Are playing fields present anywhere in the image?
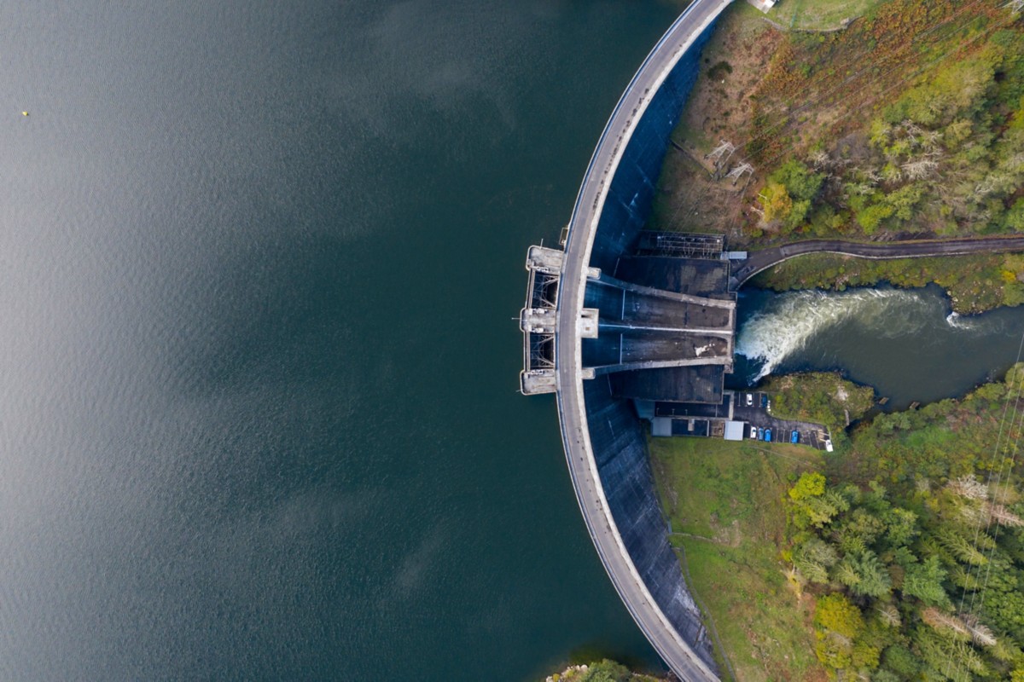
No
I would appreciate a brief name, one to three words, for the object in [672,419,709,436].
building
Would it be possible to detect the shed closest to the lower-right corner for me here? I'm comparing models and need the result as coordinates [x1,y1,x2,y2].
[722,421,749,440]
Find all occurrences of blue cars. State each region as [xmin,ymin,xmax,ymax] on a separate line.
[765,429,771,441]
[761,394,767,406]
[792,431,797,443]
[758,428,764,440]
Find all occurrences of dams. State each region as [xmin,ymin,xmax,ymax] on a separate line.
[512,0,739,682]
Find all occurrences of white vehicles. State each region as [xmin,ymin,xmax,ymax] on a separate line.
[750,426,756,439]
[825,439,834,453]
[747,393,752,405]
